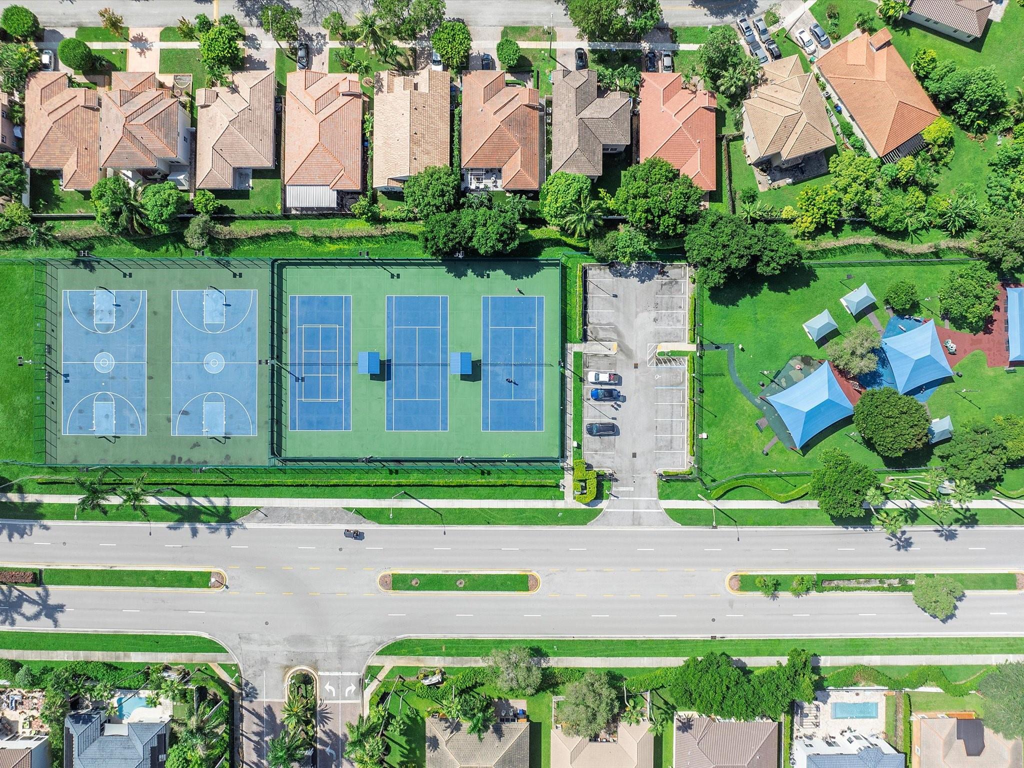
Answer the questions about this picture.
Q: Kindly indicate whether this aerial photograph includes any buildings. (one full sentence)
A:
Yes, looking at the shot, I can spot a building.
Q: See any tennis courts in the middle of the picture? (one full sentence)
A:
Yes, a tennis court can be seen in the middle of the picture.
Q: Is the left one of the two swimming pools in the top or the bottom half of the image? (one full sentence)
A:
Seen from above, the left one of the two swimming pools lies in the bottom half of the view.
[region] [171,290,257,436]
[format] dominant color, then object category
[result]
blue basketball court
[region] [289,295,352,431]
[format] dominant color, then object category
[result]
blue tennis court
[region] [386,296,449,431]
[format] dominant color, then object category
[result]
blue tennis court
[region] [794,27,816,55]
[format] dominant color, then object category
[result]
white car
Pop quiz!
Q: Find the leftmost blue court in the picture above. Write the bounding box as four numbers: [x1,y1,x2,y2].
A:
[62,290,147,435]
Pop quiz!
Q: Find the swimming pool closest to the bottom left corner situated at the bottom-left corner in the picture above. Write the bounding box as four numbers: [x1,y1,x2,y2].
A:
[116,696,157,721]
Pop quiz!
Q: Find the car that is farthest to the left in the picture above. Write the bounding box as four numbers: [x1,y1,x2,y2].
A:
[40,47,56,72]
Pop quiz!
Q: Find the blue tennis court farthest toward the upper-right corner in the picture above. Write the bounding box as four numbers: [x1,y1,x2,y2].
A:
[481,296,544,431]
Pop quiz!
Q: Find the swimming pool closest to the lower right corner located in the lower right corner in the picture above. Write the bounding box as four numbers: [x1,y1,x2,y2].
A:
[830,701,879,720]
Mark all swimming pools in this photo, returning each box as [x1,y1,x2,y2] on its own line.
[116,696,157,721]
[830,701,879,720]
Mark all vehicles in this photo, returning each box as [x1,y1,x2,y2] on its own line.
[645,48,658,73]
[587,371,620,385]
[747,36,770,66]
[343,529,362,540]
[297,42,310,68]
[808,23,830,50]
[40,47,56,72]
[752,15,771,43]
[481,52,492,70]
[587,423,615,436]
[661,48,674,73]
[592,389,623,401]
[763,37,784,62]
[574,46,587,70]
[431,45,444,68]
[794,27,816,55]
